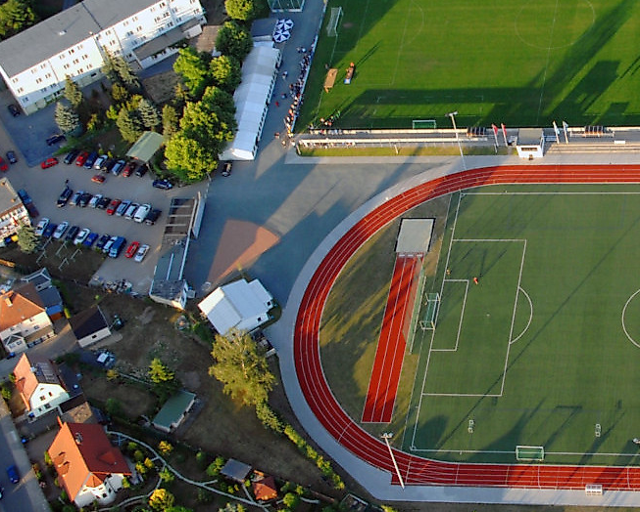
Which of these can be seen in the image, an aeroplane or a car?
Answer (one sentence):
There is a car in the scene.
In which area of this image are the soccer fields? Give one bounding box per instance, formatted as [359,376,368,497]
[399,183,640,466]
[295,0,640,136]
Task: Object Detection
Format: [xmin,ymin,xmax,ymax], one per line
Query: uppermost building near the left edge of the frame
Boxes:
[0,0,206,116]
